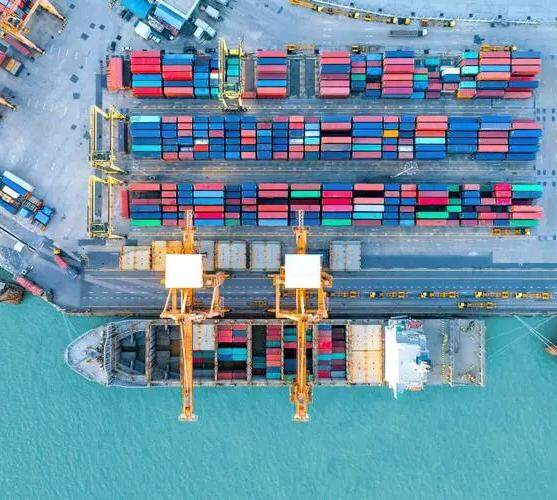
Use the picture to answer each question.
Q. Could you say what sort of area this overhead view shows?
port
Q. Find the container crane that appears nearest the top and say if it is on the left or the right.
left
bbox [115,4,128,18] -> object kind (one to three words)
vehicle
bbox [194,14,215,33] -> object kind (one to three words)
vehicle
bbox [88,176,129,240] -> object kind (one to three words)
container crane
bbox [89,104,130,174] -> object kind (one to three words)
container crane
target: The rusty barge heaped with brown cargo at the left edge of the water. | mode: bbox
[0,278,29,306]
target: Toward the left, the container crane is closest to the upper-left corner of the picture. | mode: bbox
[2,0,70,54]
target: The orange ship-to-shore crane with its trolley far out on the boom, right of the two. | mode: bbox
[268,208,332,422]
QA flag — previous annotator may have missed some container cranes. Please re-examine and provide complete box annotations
[88,176,129,240]
[219,36,249,111]
[89,104,130,174]
[155,208,230,422]
[268,208,332,422]
[2,0,70,54]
